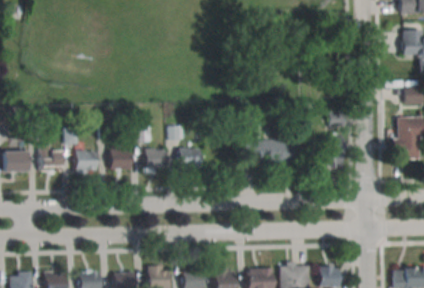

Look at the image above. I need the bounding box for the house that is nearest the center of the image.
[179,148,204,164]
